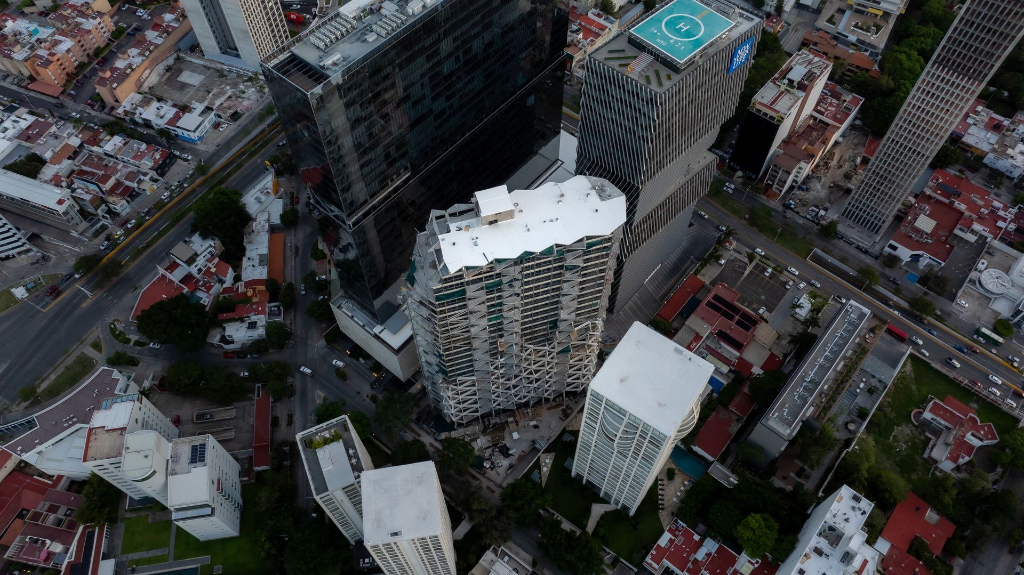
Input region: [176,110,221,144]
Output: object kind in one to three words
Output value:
building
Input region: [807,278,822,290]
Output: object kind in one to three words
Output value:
vehicle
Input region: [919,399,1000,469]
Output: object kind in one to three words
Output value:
house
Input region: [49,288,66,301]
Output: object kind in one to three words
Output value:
vehicle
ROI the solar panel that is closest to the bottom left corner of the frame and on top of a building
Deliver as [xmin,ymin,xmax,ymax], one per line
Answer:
[71,529,97,575]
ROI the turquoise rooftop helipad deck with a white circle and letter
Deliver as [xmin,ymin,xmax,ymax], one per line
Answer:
[616,0,746,77]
